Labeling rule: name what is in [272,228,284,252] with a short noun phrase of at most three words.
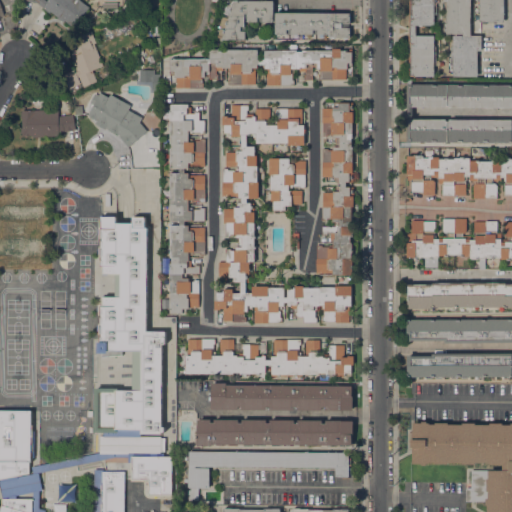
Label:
swimming pool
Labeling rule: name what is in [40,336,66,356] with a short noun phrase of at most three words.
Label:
sports court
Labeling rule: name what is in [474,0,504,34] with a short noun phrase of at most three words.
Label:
building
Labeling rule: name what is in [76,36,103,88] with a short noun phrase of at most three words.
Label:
house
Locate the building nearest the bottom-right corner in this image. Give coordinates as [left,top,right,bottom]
[412,422,512,512]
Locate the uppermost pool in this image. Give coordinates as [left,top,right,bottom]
[128,86,152,101]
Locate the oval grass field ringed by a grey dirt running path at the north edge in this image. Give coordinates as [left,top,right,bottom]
[170,0,210,42]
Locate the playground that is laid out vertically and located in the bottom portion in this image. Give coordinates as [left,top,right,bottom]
[0,188,102,464]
